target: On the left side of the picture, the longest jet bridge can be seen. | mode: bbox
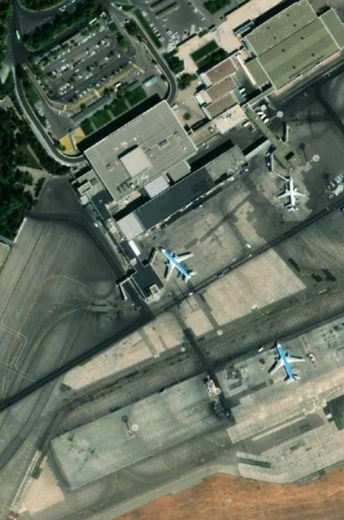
[118,275,133,301]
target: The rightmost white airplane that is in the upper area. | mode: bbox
[278,177,305,211]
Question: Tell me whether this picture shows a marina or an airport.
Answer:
airport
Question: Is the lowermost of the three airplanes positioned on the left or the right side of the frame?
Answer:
right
